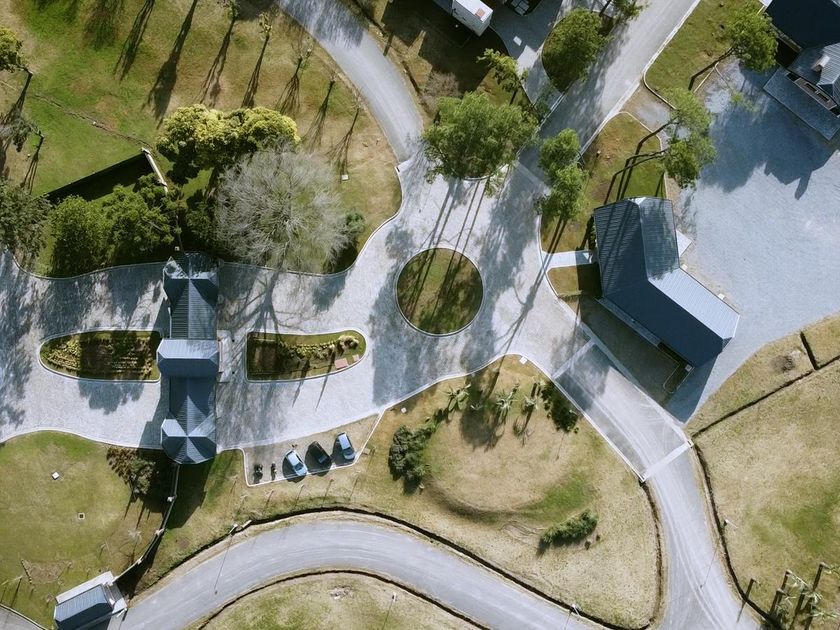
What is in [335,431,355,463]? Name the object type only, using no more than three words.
car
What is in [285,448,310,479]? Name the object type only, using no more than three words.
car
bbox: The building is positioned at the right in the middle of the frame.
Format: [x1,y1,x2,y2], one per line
[589,194,743,372]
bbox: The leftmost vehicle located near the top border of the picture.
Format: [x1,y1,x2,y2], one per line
[442,0,492,34]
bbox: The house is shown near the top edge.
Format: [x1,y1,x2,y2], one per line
[754,0,840,141]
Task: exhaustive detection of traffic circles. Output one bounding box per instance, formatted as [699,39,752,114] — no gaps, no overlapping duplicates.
[395,247,484,335]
